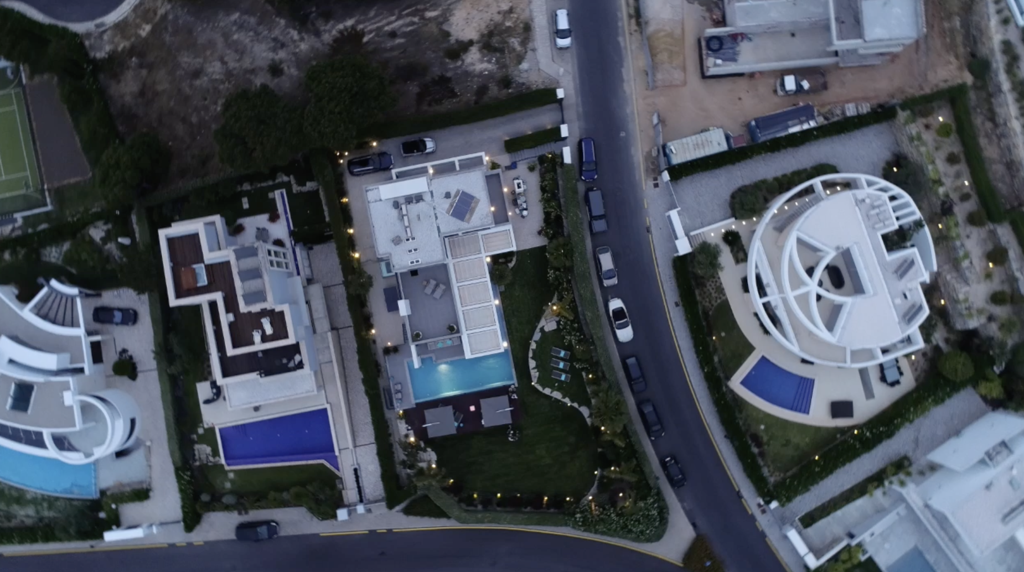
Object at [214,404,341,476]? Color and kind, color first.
blue swimming pool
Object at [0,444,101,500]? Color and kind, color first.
blue swimming pool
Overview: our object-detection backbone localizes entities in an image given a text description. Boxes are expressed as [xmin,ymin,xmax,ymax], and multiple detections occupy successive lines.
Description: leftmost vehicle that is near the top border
[553,7,572,49]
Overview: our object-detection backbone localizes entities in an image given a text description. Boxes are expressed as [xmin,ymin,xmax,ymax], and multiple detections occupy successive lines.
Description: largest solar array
[446,189,480,223]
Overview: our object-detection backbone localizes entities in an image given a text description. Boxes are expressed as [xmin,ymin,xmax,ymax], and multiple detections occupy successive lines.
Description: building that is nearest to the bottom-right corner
[888,407,1024,572]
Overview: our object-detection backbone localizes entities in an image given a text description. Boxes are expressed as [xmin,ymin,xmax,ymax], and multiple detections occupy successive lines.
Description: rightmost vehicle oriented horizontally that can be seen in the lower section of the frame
[234,519,280,542]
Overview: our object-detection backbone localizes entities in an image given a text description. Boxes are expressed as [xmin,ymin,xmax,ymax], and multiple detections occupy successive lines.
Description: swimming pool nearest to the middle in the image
[403,276,520,407]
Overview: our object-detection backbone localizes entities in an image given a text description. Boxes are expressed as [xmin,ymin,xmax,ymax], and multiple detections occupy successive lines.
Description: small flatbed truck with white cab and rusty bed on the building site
[779,71,828,95]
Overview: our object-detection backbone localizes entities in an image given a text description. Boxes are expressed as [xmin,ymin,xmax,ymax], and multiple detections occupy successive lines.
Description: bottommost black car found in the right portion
[661,454,686,489]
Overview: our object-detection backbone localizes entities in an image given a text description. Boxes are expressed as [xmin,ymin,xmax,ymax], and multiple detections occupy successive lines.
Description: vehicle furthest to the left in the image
[91,306,139,327]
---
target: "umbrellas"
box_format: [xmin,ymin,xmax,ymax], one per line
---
[480,395,518,427]
[422,406,457,438]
